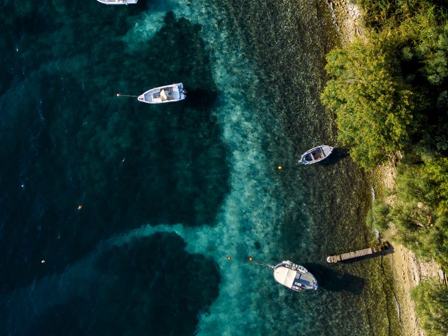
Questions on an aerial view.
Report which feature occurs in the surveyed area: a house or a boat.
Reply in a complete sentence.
The one in the frame is a boat.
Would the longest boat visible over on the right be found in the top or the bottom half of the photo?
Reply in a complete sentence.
Seen from above, the longest boat visible over on the right lies in the bottom half of the view.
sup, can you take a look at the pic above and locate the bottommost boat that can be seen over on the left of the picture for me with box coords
[137,83,191,105]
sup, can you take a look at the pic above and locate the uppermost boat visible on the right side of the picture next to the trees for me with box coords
[300,145,334,164]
